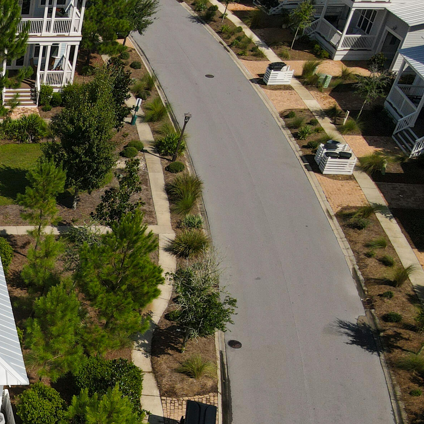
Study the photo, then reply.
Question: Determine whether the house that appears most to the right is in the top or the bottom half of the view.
top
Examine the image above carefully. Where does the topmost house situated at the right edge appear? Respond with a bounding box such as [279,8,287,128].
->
[289,0,424,70]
